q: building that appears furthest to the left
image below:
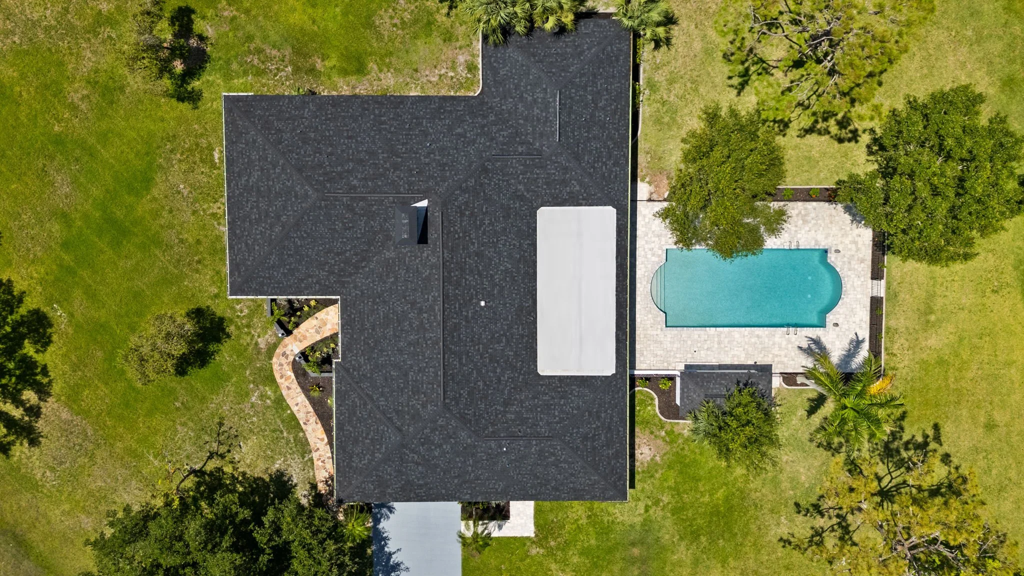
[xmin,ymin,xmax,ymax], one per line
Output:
[221,19,633,504]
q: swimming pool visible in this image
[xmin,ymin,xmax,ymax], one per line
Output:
[644,242,850,335]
